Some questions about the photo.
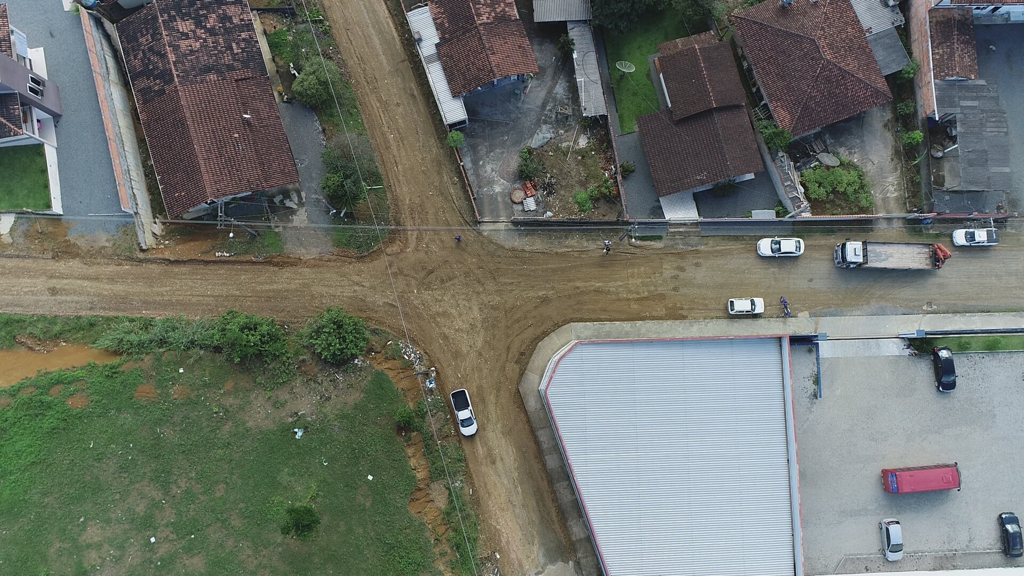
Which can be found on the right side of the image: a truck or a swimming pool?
truck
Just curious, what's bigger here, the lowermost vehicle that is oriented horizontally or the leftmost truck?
the vehicle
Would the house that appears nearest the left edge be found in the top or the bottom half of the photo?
top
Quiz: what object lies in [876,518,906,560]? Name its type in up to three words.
car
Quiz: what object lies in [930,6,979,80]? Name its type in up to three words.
building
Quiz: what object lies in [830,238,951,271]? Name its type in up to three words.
truck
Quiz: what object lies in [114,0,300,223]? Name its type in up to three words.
house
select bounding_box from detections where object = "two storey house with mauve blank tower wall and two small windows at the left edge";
[0,2,61,149]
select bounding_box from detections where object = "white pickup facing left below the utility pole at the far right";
[949,227,1001,249]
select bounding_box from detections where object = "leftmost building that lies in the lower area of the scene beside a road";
[540,338,803,576]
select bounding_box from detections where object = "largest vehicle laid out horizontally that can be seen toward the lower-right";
[882,464,964,496]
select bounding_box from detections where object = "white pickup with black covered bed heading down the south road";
[450,389,479,437]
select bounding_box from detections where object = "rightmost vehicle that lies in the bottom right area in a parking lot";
[992,513,1024,558]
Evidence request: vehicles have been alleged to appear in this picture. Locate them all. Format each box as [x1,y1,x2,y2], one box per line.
[992,513,1024,558]
[450,389,479,437]
[726,295,764,317]
[755,235,804,259]
[949,227,1001,249]
[882,464,964,496]
[876,518,906,560]
[830,238,951,271]
[779,297,793,315]
[929,348,960,392]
